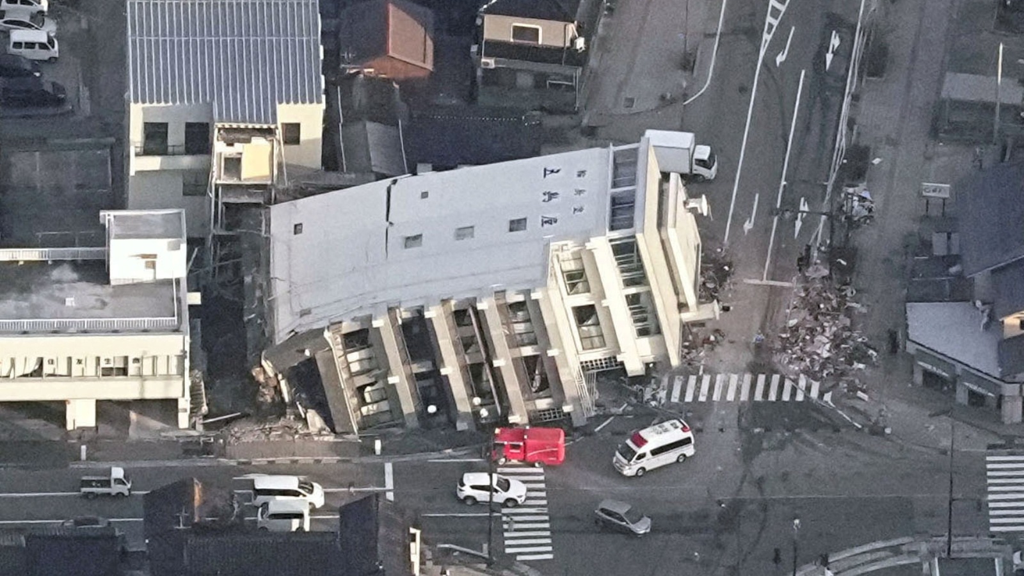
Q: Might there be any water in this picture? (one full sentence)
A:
No, the scene doesn't show any water.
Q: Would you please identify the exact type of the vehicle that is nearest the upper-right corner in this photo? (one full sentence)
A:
It looks like the vehicle that is nearest the upper-right corner is a truck.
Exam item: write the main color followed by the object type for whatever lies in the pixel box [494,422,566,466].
red truck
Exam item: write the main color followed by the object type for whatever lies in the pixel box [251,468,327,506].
white vehicle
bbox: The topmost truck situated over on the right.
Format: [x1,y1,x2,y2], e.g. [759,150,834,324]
[641,126,715,181]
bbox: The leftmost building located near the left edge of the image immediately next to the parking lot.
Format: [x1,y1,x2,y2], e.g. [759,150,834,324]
[0,200,200,428]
